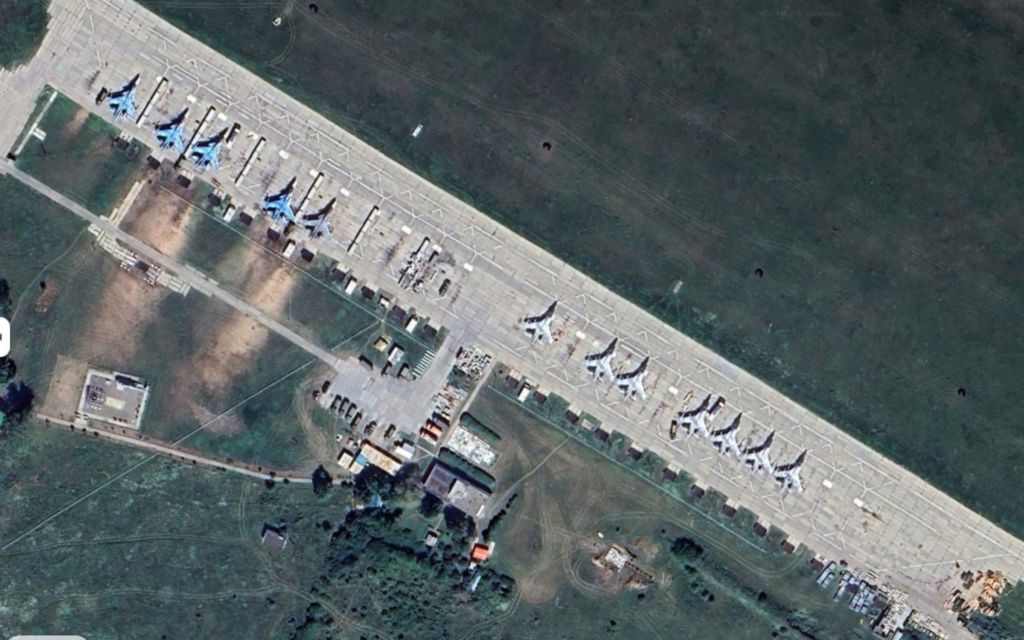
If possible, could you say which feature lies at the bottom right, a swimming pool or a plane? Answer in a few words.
plane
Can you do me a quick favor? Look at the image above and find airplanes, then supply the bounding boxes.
[156,110,190,157]
[743,433,778,480]
[303,201,337,247]
[263,180,297,226]
[680,396,714,443]
[617,360,651,405]
[106,75,141,122]
[776,452,810,499]
[193,127,228,175]
[586,339,620,386]
[526,303,560,349]
[710,415,744,461]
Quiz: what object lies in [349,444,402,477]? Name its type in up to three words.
building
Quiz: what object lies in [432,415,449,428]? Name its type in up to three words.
vehicle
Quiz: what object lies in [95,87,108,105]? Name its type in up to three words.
vehicle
